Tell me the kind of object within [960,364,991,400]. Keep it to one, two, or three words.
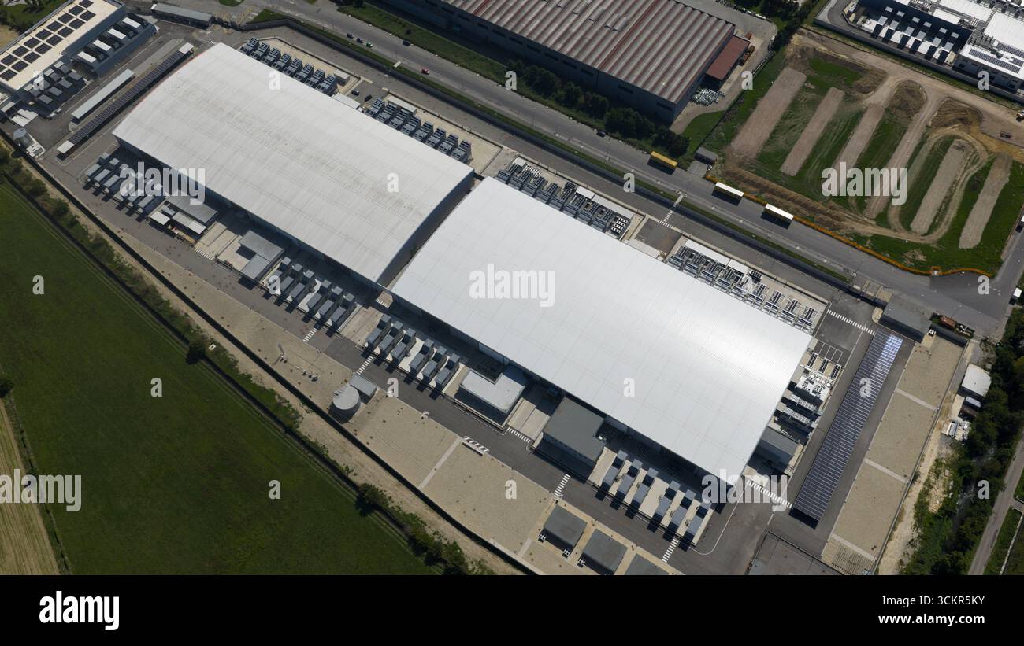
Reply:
barn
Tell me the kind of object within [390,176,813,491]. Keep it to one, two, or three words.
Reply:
building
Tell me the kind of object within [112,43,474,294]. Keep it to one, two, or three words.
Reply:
building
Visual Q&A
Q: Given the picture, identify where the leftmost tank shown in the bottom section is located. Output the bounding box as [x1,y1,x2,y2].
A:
[332,384,361,420]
